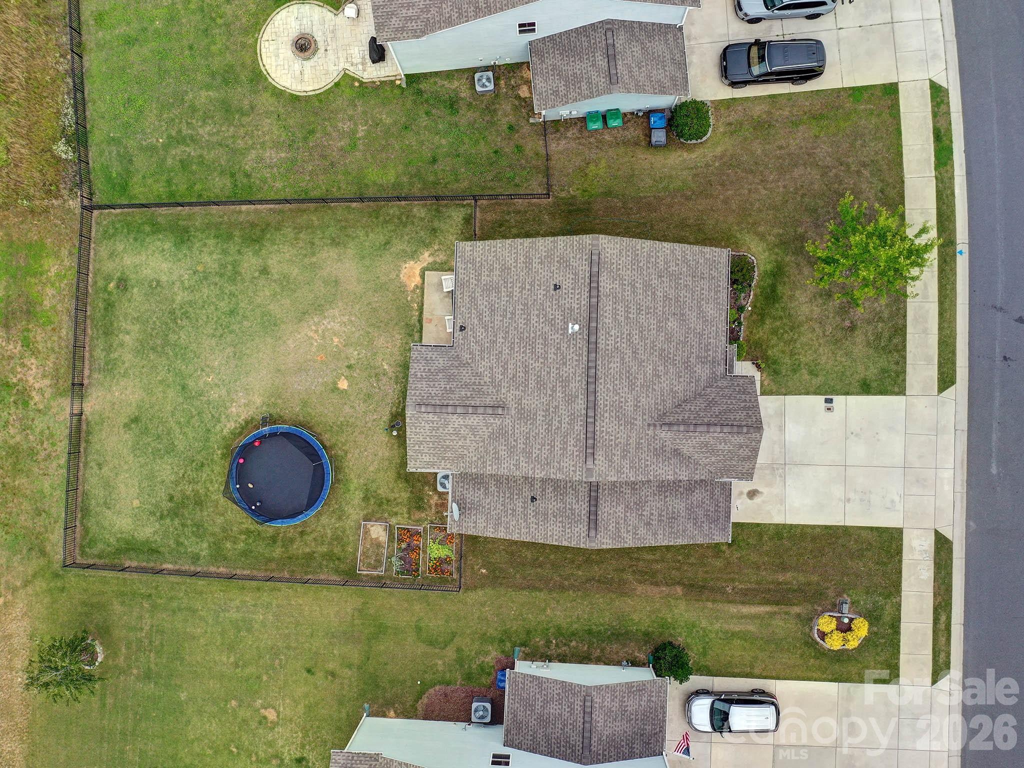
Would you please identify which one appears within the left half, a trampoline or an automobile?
trampoline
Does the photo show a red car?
No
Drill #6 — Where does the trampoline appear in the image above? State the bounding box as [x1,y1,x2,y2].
[221,423,336,527]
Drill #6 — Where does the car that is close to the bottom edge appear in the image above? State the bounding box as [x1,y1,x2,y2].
[685,689,781,739]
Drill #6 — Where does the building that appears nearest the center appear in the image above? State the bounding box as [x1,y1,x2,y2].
[406,235,763,549]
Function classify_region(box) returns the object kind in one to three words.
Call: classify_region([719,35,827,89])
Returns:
car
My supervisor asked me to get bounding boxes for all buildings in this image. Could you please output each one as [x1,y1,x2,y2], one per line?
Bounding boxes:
[406,235,763,549]
[370,0,698,127]
[328,654,675,768]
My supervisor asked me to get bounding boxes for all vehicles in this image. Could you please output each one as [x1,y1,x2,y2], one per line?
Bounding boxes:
[685,689,781,739]
[734,0,841,24]
[719,35,827,89]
